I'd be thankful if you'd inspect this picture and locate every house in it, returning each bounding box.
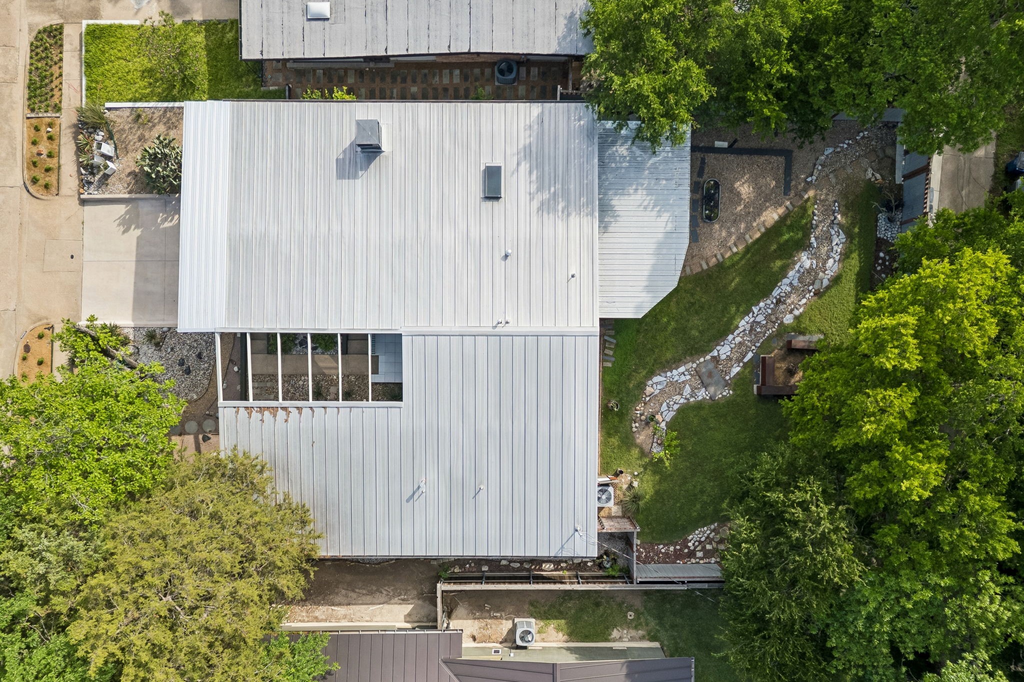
[175,100,691,559]
[237,0,596,72]
[249,618,697,682]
